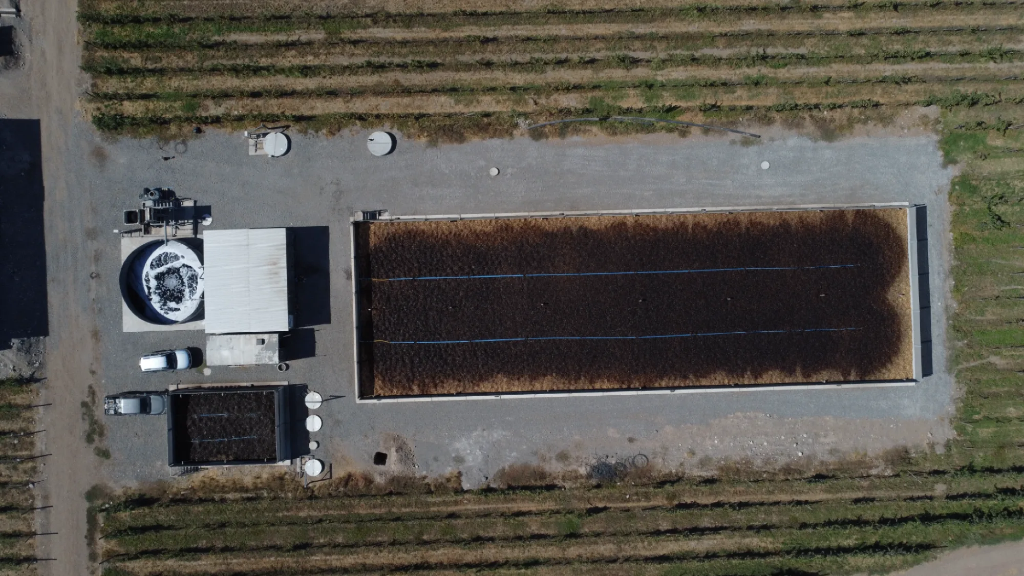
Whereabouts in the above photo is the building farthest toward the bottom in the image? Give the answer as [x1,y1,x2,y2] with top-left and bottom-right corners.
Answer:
[206,333,288,365]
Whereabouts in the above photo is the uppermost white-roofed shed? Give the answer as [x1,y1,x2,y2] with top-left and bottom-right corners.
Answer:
[203,228,297,333]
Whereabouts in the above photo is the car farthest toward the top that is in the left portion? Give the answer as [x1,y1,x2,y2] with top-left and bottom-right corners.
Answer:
[138,349,194,374]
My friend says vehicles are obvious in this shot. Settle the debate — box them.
[103,393,168,419]
[138,349,194,374]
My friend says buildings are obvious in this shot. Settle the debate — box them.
[203,228,297,333]
[206,333,288,365]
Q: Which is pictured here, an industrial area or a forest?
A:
industrial area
